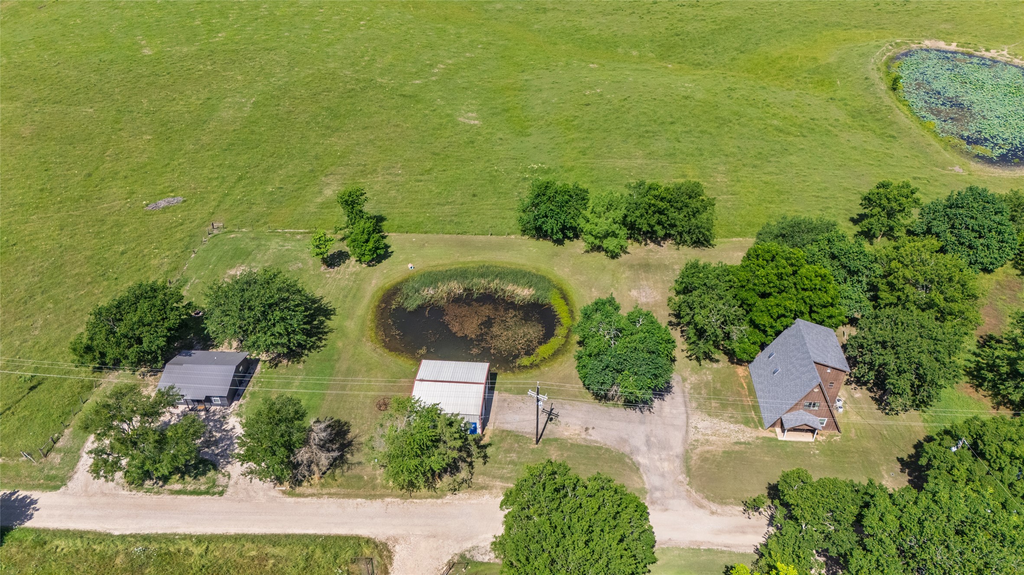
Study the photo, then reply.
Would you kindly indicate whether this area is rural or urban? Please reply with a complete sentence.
The area is rural.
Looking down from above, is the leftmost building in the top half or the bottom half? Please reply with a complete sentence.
You can find the leftmost building in the bottom half.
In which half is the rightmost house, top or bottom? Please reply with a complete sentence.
It is in the bottom half that the rightmost house appears.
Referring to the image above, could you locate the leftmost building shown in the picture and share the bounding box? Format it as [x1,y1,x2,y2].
[156,352,249,412]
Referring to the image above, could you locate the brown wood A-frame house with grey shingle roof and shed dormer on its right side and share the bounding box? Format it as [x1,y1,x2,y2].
[747,319,852,442]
